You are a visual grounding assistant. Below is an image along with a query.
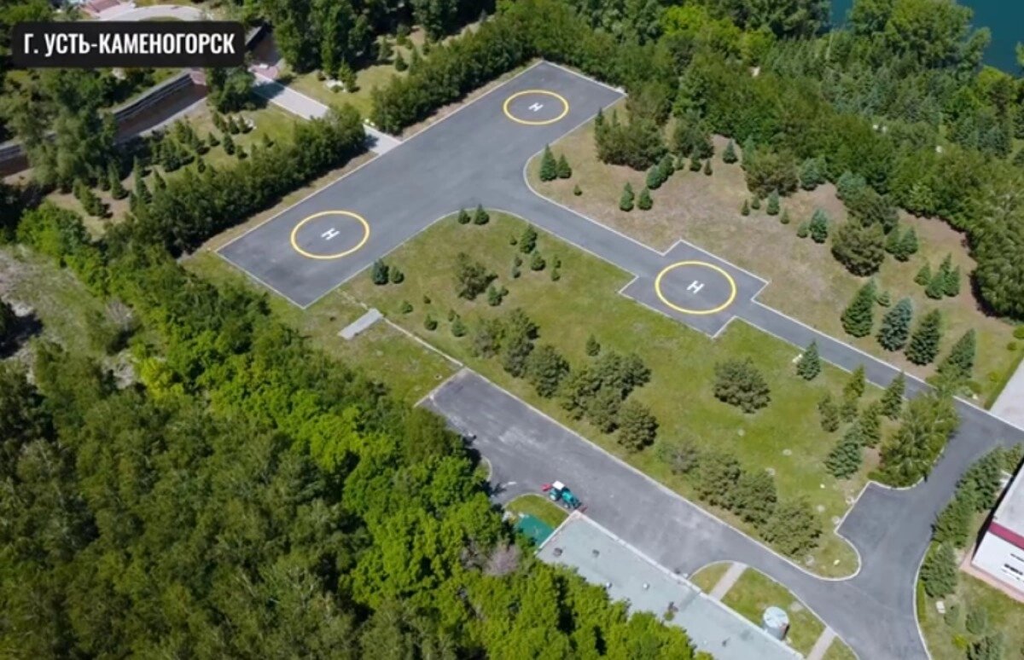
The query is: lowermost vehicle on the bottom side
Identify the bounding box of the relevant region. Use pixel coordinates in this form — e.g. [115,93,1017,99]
[542,482,583,516]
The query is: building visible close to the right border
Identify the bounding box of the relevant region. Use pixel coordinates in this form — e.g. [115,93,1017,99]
[971,472,1024,594]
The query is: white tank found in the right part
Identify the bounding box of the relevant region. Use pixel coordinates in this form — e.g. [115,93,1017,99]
[765,603,795,639]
